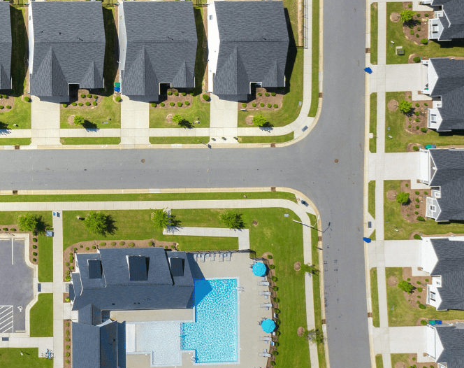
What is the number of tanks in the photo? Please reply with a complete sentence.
There are no tanks in the image.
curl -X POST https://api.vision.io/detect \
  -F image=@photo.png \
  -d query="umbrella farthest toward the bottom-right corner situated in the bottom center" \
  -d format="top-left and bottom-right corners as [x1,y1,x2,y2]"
[260,318,276,332]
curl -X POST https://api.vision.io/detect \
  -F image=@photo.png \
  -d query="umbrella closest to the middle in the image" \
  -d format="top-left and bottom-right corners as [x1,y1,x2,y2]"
[251,261,267,276]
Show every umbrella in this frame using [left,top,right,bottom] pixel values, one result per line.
[260,318,276,332]
[251,261,267,276]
